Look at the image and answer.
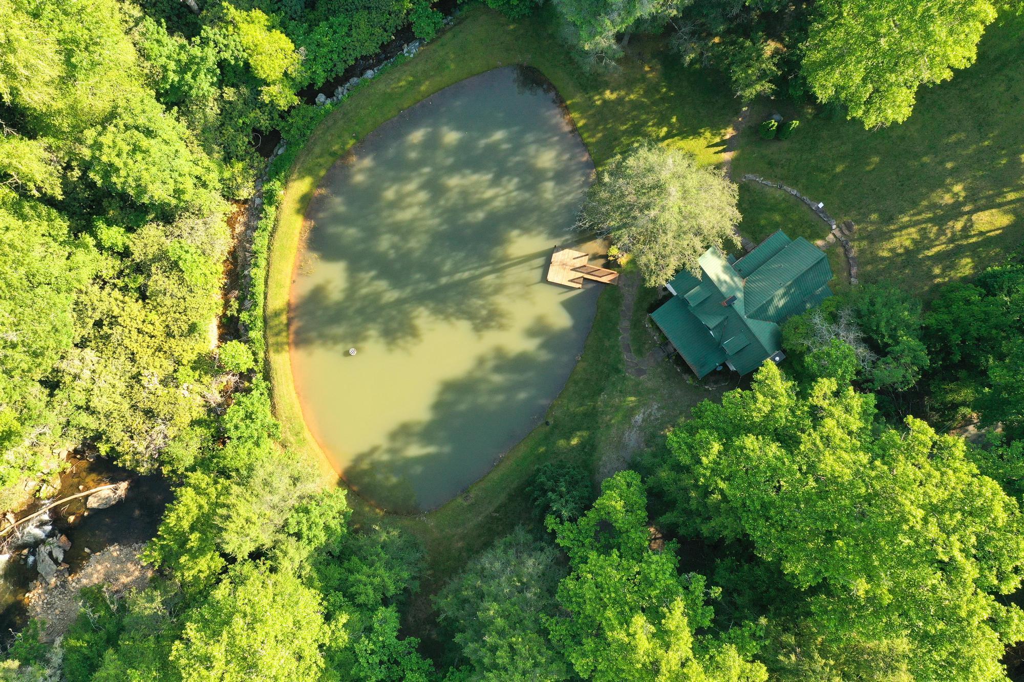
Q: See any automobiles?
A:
No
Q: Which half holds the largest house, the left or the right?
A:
right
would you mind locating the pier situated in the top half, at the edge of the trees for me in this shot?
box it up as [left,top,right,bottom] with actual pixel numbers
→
[546,244,622,289]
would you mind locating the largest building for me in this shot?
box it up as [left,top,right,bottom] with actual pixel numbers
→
[648,227,834,403]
